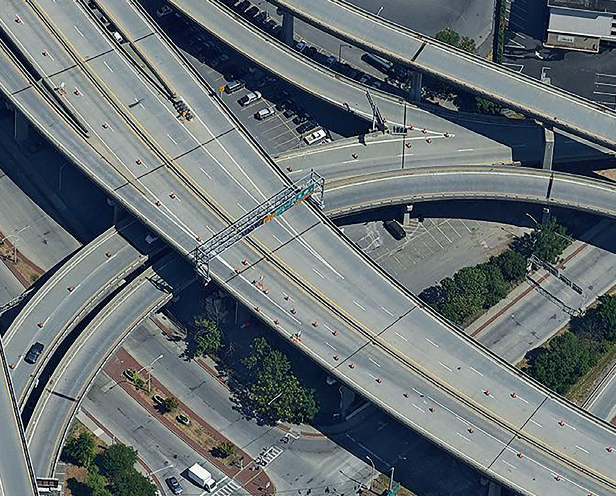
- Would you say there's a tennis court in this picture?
No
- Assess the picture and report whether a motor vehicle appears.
Yes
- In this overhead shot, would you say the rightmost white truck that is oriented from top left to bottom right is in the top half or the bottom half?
bottom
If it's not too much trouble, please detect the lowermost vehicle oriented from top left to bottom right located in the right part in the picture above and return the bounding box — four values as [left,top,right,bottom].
[386,218,404,239]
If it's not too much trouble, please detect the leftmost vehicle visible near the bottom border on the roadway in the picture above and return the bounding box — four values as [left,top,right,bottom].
[166,477,181,495]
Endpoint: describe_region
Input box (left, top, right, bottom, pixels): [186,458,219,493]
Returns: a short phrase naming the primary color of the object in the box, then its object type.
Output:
white truck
